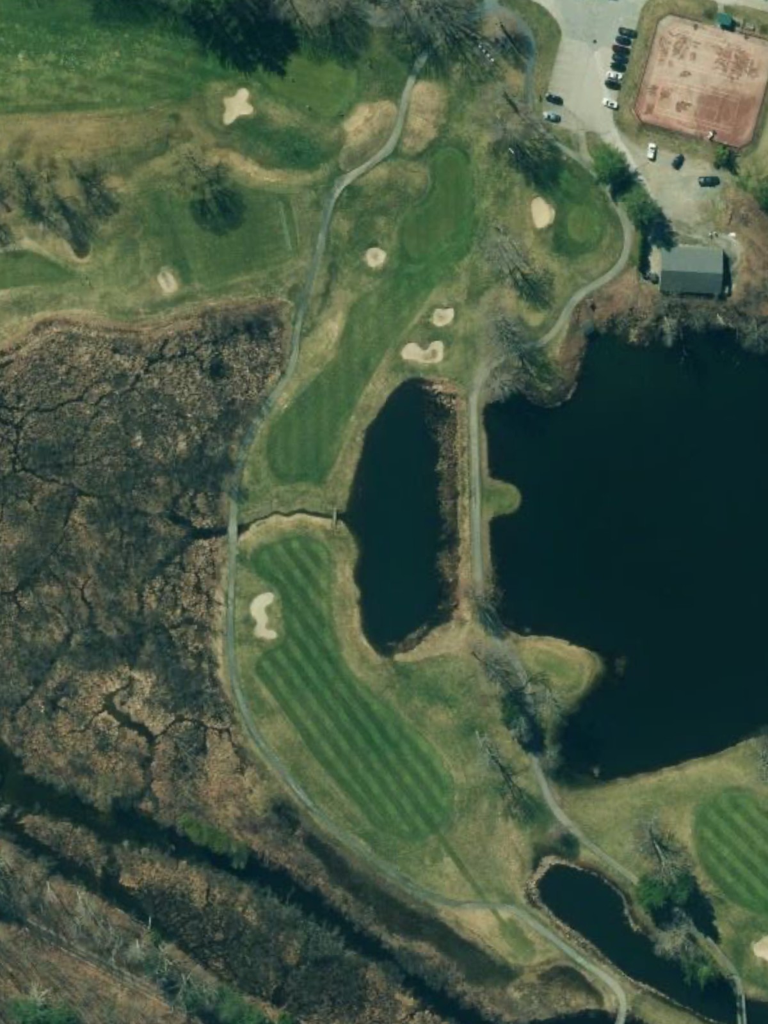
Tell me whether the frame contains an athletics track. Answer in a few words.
No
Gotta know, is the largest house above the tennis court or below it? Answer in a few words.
below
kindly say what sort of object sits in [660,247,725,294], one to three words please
house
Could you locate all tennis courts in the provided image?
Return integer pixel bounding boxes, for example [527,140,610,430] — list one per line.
[635,15,768,147]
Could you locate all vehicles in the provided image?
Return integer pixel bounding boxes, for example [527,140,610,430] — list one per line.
[619,27,637,37]
[602,98,618,107]
[488,55,496,63]
[544,112,560,121]
[700,177,719,185]
[673,153,683,168]
[612,44,630,54]
[605,79,621,88]
[546,94,563,104]
[615,36,632,45]
[649,142,656,159]
[484,51,492,59]
[613,53,629,62]
[606,71,623,80]
[610,61,627,70]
